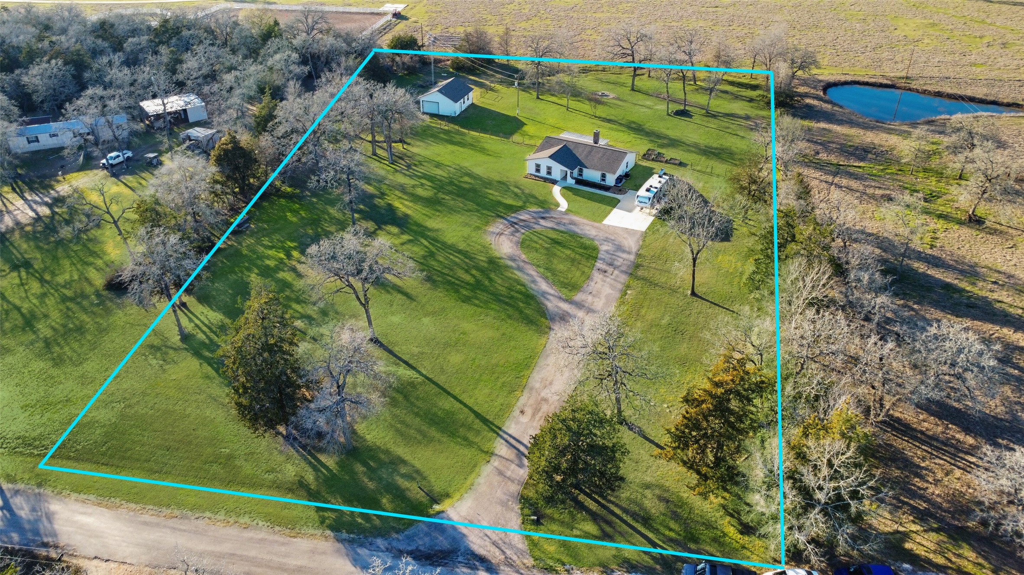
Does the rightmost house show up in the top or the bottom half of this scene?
top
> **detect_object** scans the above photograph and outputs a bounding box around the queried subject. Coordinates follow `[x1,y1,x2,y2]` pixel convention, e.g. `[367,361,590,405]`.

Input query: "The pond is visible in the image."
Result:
[826,82,1024,119]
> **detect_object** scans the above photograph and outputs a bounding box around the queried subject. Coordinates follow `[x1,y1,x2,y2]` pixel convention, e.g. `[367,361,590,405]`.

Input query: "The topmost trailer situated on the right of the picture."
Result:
[637,173,668,214]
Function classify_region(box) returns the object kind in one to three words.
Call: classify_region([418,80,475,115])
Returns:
building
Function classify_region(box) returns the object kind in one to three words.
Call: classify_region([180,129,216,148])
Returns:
shed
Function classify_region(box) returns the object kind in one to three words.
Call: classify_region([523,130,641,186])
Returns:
house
